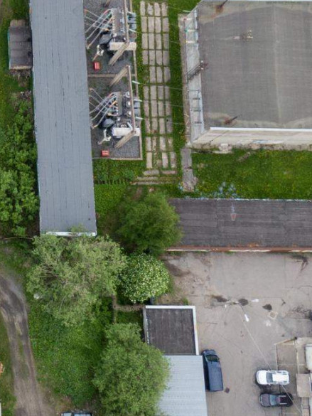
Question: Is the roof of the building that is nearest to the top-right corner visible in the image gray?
Yes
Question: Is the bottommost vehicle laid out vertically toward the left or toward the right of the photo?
right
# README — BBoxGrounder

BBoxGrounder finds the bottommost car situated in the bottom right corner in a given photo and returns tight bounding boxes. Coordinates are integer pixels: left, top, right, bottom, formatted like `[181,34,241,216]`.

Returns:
[258,391,294,409]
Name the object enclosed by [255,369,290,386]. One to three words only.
car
